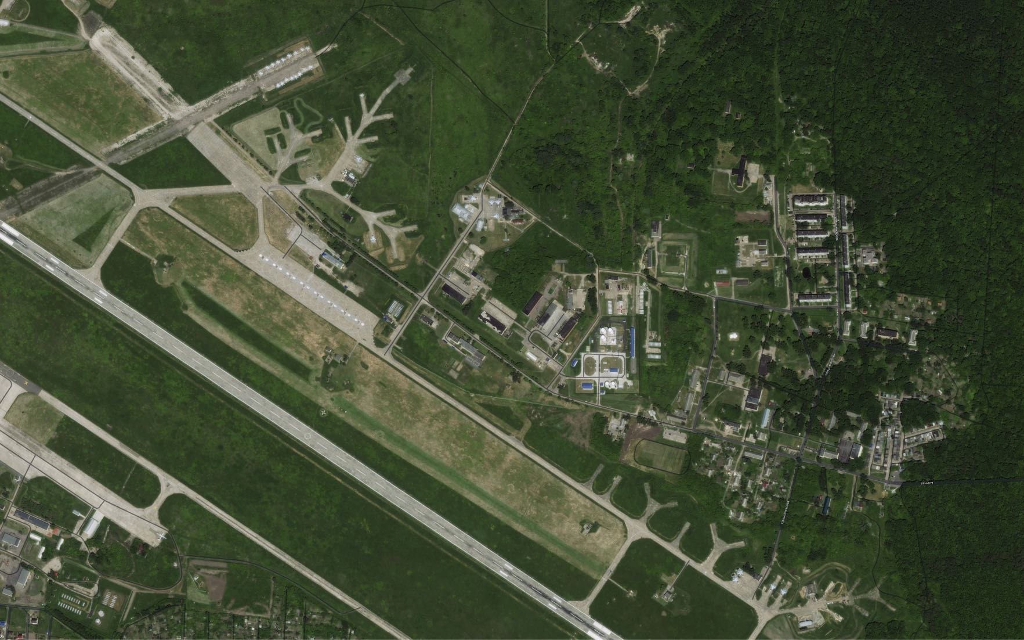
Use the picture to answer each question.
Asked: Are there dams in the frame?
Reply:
No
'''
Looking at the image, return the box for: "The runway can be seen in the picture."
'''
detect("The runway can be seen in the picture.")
[0,220,623,640]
